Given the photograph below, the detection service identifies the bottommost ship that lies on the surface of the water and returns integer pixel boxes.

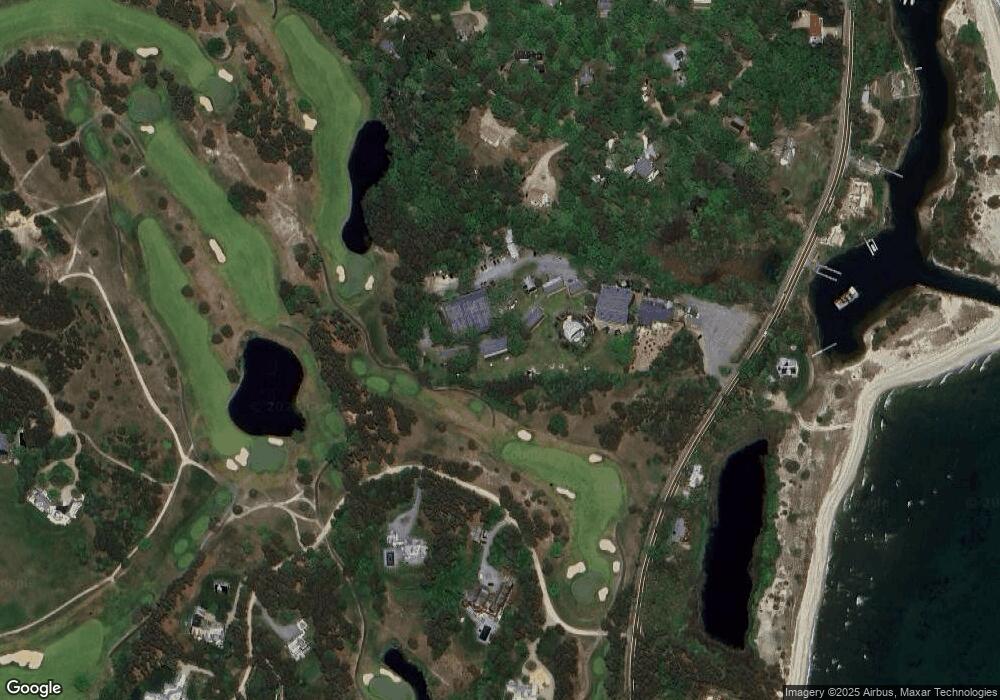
[835,287,860,309]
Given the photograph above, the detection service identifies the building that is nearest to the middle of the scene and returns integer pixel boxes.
[479,336,508,359]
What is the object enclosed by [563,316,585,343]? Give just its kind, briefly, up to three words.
building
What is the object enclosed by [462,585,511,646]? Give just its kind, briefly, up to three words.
house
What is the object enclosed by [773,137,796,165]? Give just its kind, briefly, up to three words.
house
